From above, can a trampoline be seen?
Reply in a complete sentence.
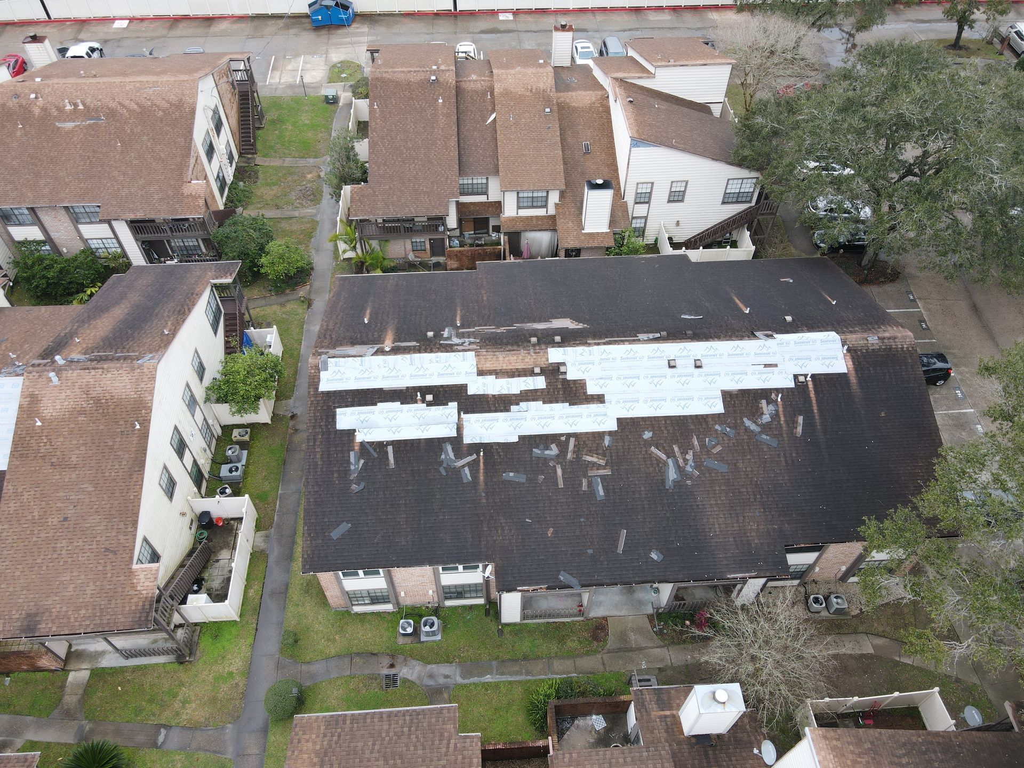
No, the scene contains no trampoline.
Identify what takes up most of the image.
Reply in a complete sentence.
The bulk of the photo consists of buildings.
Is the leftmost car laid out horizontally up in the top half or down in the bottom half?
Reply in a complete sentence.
The leftmost car laid out horizontally is in the top half of the image.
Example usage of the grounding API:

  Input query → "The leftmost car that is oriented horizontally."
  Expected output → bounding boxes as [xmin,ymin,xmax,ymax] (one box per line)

[60,39,109,59]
